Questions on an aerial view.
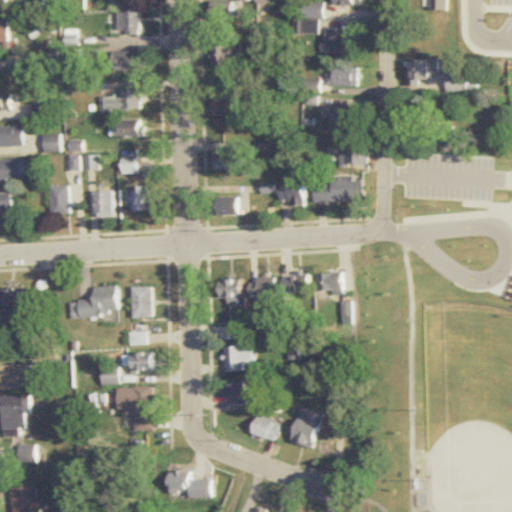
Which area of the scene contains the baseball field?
bottom right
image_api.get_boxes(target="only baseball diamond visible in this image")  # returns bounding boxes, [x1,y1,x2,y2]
[414,304,512,512]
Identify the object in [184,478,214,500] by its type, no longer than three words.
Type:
building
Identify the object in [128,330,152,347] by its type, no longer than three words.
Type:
building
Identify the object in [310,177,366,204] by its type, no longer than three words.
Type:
house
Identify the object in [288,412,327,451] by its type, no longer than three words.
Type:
house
